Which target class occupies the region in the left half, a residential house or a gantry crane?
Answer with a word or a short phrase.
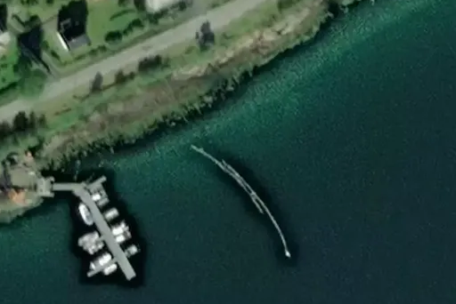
residential house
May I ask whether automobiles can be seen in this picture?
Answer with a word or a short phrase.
No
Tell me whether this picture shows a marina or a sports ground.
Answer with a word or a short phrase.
marina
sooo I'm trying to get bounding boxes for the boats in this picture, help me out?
[90,243,103,252]
[125,247,138,255]
[80,204,94,226]
[112,224,127,236]
[115,233,129,244]
[105,209,119,220]
[92,253,113,268]
[79,229,98,243]
[82,237,98,249]
[104,263,118,274]
[92,194,101,202]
